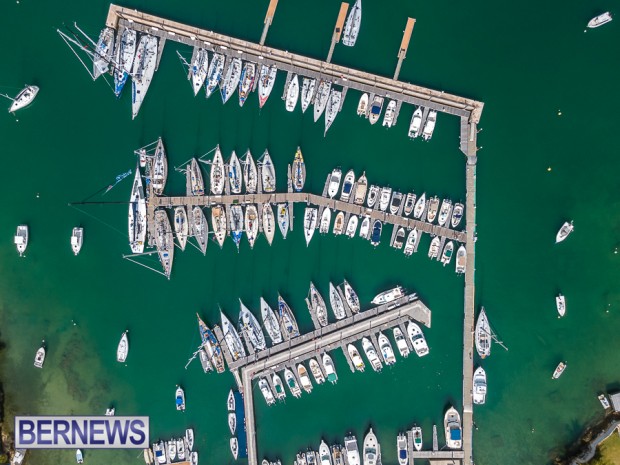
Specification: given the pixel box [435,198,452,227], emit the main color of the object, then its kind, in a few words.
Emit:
white boat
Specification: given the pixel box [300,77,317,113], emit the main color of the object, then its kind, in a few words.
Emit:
white boat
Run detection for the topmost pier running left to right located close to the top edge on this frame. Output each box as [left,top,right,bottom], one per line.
[105,4,484,124]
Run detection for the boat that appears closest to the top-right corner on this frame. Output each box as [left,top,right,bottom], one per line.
[586,12,612,30]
